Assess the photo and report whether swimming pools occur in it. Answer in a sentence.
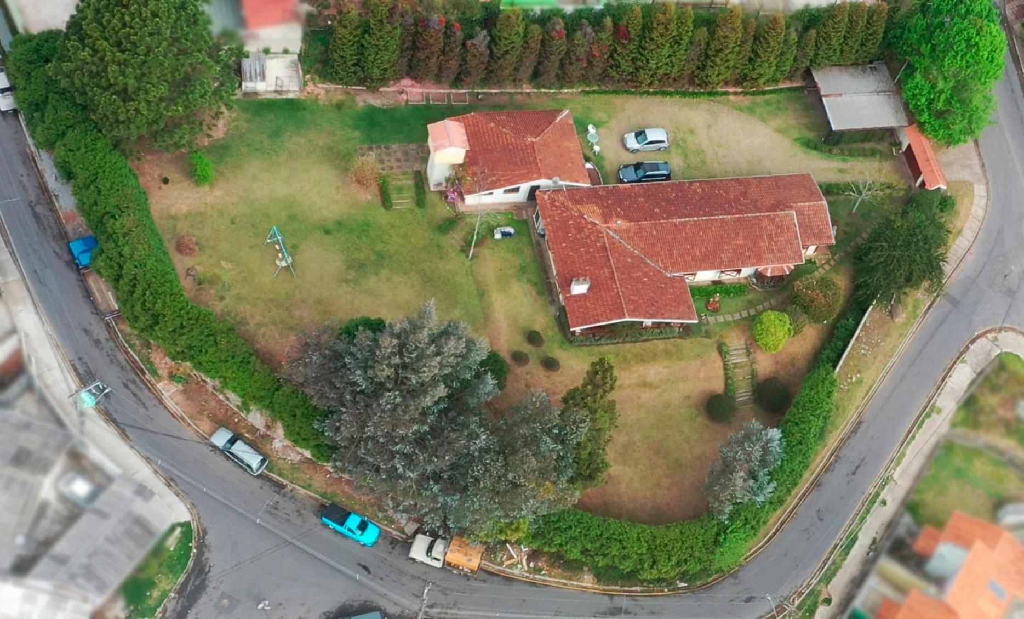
No, no swimming pool is visible in the scene.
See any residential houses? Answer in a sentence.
Yes, you can see a residential house in this photo.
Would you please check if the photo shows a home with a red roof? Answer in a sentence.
Yes, there's a home with a red roof down there.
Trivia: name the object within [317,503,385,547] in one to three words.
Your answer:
truck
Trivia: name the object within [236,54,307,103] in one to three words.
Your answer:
shed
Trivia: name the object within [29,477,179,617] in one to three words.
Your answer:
house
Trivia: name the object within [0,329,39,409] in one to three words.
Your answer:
house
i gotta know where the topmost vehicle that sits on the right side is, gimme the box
[620,127,673,156]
